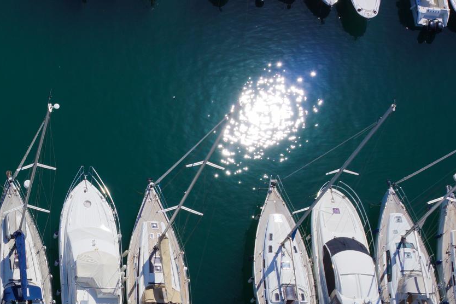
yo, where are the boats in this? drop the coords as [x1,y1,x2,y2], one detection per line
[374,149,456,304]
[126,105,234,304]
[57,165,123,304]
[350,0,382,21]
[0,89,61,304]
[410,0,451,36]
[436,186,456,304]
[306,174,380,304]
[317,0,339,11]
[250,93,404,304]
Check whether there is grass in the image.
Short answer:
No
